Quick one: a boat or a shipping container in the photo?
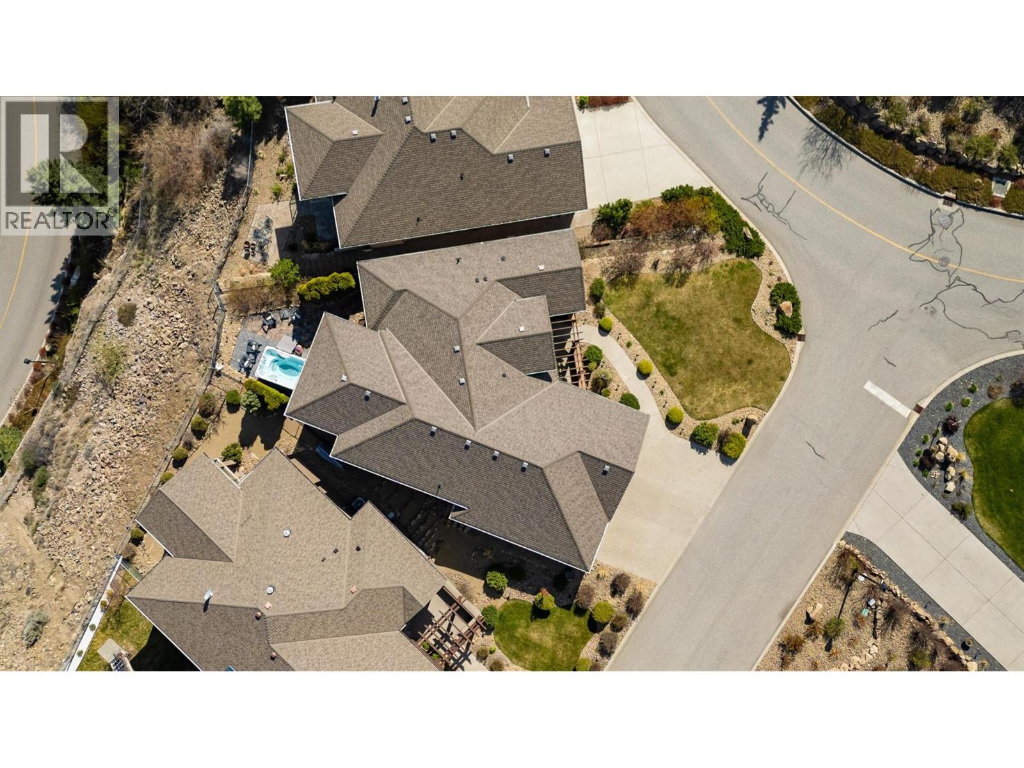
boat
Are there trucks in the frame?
No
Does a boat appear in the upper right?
No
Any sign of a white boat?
No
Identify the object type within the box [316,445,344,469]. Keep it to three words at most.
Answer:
boat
